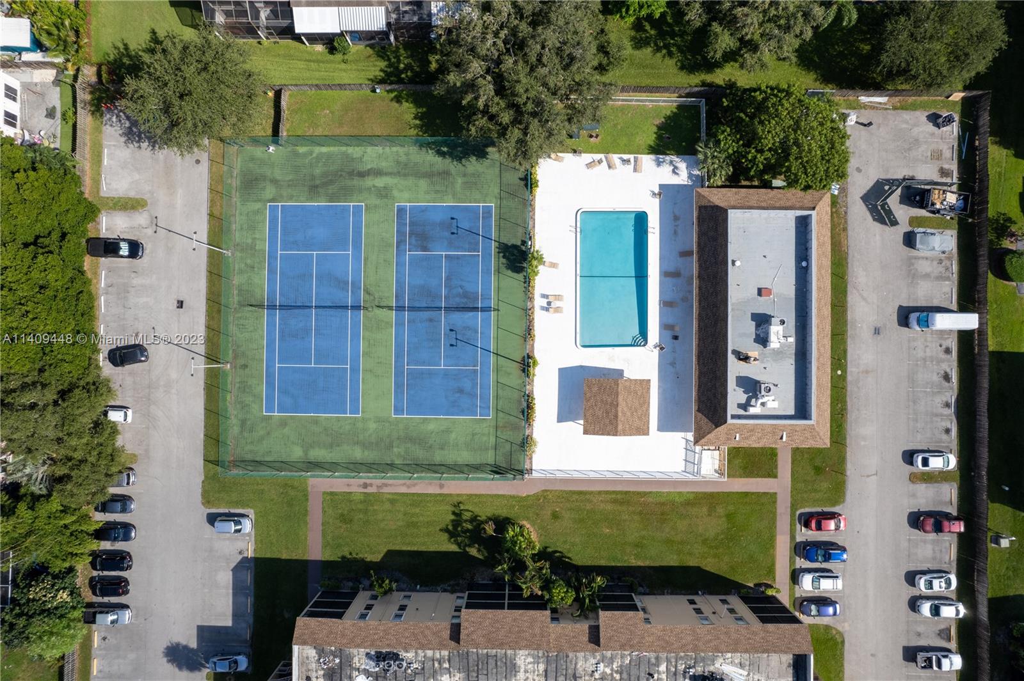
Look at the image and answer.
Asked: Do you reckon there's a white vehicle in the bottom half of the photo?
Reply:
Yes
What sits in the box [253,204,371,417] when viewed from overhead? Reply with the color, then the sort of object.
blue tennis court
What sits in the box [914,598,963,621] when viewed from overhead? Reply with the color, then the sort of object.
white car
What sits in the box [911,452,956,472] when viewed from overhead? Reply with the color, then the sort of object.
white car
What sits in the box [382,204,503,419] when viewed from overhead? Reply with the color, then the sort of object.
blue tennis court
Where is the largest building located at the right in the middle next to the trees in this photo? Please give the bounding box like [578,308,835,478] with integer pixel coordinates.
[691,188,831,447]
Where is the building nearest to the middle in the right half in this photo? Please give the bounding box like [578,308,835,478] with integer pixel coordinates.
[583,379,650,436]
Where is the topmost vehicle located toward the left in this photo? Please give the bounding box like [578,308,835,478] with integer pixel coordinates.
[88,237,145,258]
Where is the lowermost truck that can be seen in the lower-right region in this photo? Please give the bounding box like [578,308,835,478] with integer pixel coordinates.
[914,651,962,674]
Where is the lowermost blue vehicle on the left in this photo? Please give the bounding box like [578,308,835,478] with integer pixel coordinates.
[208,653,250,675]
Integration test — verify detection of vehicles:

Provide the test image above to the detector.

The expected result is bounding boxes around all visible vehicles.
[798,598,840,620]
[914,651,962,674]
[108,468,140,486]
[797,571,843,594]
[100,406,137,425]
[88,577,132,599]
[911,452,956,472]
[208,653,250,675]
[107,345,151,366]
[915,515,966,536]
[904,311,977,333]
[82,605,135,628]
[90,552,135,573]
[88,237,145,258]
[914,598,963,621]
[96,523,138,544]
[213,515,253,536]
[95,496,137,516]
[912,572,956,594]
[802,544,848,565]
[805,514,846,534]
